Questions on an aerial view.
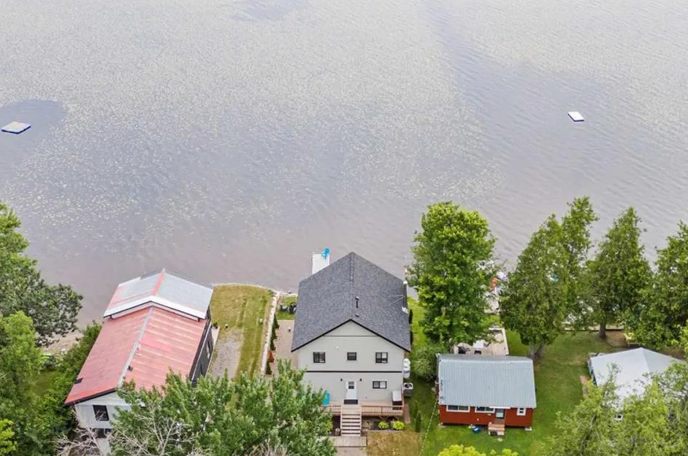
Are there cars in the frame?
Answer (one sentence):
No, there isn't any car down there.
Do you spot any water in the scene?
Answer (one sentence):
Yes, the picture does contain water.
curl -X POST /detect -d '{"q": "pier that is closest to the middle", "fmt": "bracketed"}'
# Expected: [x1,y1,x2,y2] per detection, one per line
[311,249,331,275]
